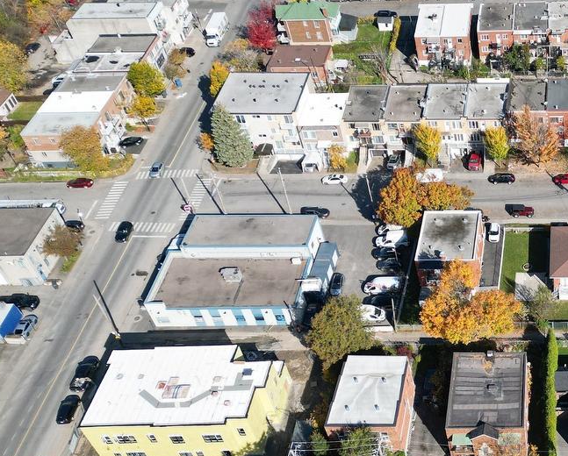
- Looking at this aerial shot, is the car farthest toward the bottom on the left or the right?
left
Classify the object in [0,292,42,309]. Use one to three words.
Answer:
vehicle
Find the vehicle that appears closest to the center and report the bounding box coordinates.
[300,205,330,219]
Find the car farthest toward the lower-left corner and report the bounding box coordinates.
[56,393,84,423]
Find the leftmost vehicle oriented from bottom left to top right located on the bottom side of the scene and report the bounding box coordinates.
[6,310,48,342]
